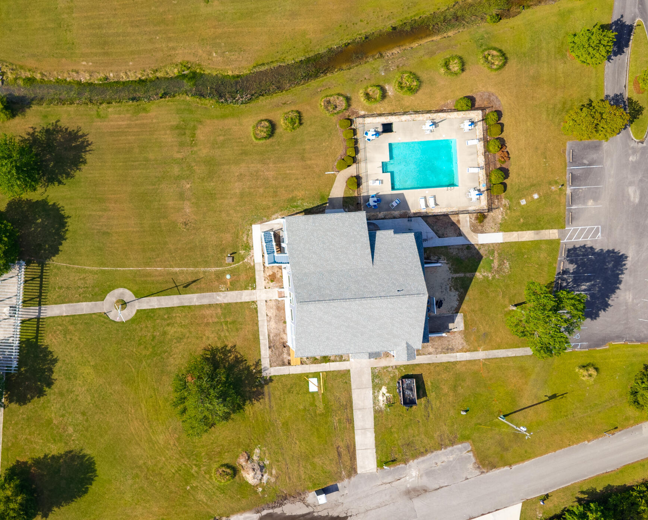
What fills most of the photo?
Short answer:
grass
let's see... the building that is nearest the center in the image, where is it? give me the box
[283,211,431,361]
